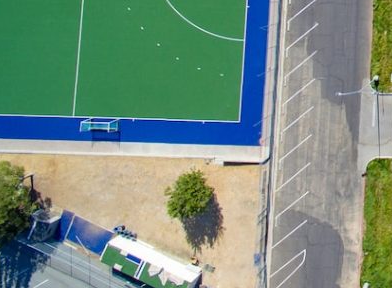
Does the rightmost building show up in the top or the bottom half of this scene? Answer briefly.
bottom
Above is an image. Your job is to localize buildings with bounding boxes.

[18,204,64,247]
[99,236,205,288]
